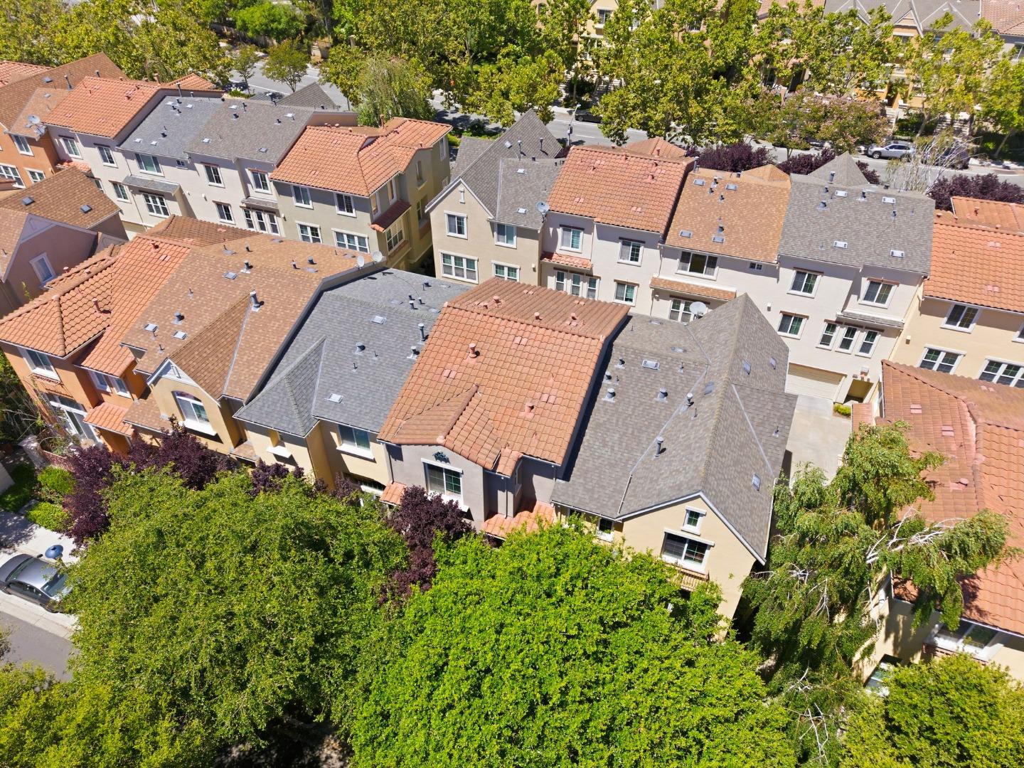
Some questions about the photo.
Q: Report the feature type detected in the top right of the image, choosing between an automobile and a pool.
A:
automobile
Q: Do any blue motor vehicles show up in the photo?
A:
No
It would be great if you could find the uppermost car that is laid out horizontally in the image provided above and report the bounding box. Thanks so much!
[575,105,606,122]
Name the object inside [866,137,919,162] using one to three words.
car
